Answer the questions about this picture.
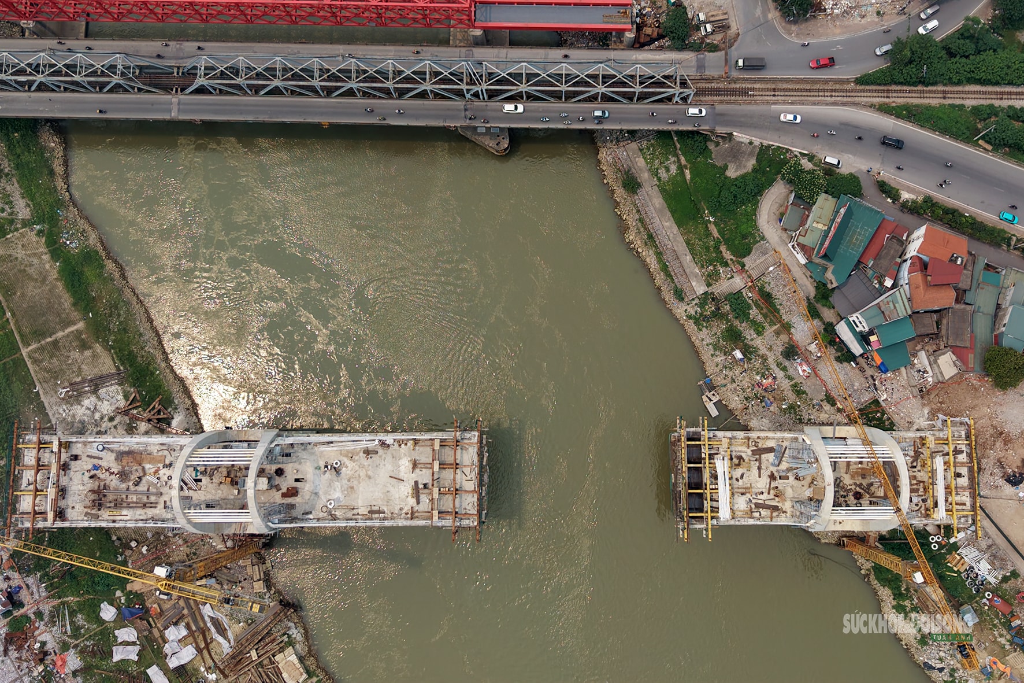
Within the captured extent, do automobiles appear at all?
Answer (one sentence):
Yes, there's an automobile here.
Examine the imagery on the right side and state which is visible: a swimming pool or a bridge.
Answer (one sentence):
Looking on the right side, you will find a bridge.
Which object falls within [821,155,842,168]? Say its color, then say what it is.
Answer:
white vehicle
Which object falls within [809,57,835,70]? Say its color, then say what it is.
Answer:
red vehicle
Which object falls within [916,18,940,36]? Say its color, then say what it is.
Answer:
white car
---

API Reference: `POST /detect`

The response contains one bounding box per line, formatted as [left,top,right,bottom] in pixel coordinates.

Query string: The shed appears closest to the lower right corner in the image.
[952,603,979,626]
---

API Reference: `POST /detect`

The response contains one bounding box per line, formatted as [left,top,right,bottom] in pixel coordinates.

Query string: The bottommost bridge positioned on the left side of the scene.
[3,419,490,543]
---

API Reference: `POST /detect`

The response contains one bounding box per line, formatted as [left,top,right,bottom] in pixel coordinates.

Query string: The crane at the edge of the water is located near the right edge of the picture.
[772,250,981,683]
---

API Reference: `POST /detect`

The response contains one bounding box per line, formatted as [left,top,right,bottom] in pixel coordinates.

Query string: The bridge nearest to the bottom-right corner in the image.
[668,417,984,541]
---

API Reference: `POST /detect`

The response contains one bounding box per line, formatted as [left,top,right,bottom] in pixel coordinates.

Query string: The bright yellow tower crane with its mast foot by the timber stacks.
[0,533,267,624]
